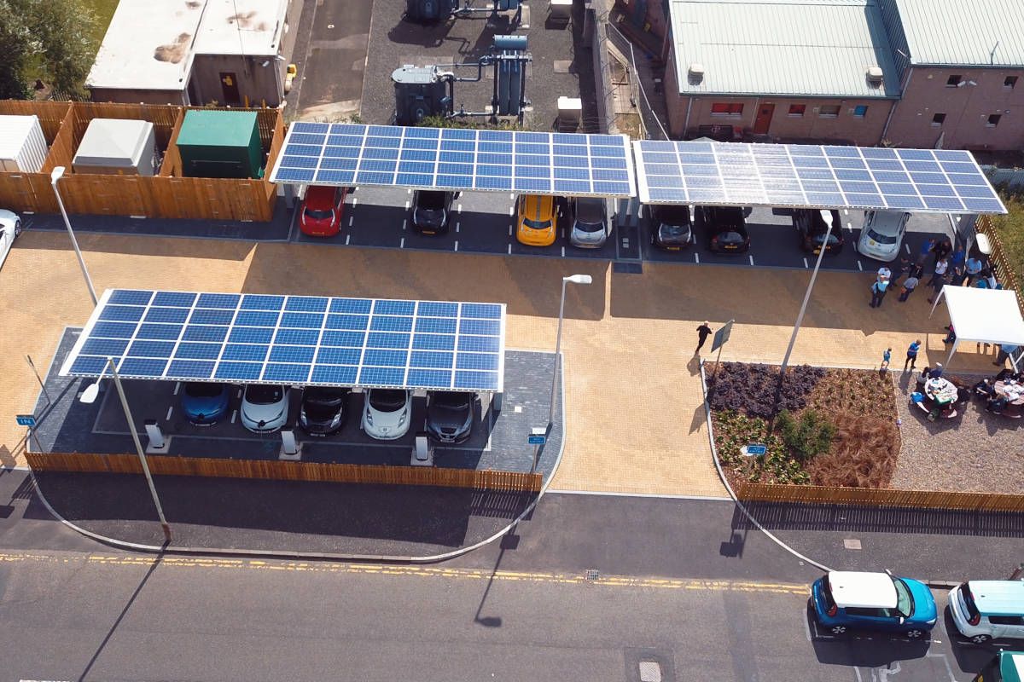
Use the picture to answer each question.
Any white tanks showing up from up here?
No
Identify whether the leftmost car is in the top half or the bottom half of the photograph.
top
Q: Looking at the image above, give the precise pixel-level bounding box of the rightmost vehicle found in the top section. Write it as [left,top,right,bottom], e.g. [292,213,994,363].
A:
[851,215,900,260]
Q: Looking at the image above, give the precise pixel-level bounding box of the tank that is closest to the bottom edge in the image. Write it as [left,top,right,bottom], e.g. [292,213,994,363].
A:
[391,80,439,125]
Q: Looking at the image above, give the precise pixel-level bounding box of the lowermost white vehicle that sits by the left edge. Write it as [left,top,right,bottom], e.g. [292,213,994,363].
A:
[0,217,25,251]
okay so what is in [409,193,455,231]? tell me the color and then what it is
black car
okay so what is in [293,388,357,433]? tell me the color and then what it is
black car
